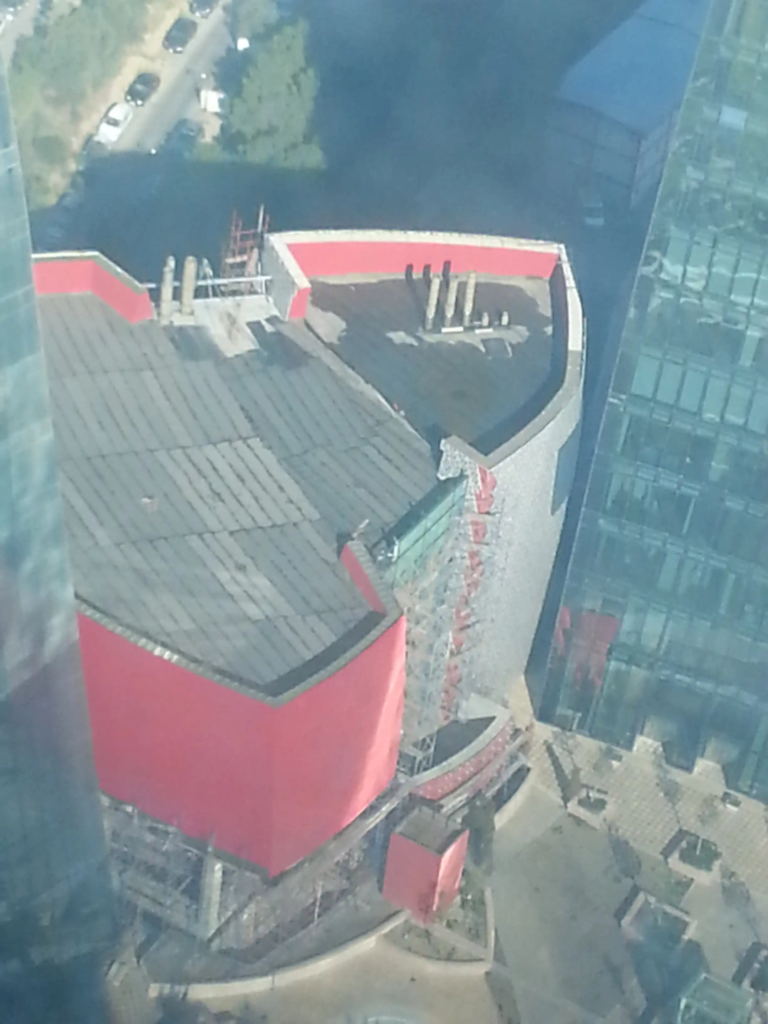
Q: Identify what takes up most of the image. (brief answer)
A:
buildings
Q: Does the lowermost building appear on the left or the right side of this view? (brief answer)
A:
right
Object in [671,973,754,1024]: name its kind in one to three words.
building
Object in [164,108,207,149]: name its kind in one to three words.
car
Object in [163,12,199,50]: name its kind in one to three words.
car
